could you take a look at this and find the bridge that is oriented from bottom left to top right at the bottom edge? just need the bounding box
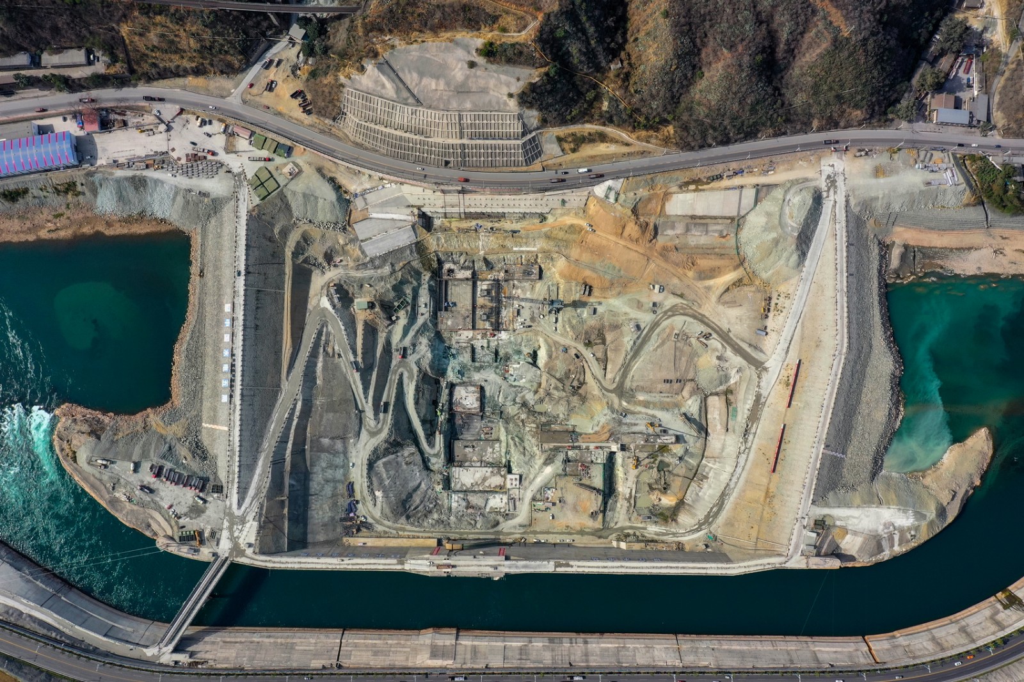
[158,549,234,653]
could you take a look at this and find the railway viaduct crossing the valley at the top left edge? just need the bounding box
[208,0,352,25]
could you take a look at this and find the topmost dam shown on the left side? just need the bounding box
[168,164,288,539]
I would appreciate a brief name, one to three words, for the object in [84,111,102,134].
building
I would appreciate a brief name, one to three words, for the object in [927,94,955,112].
building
